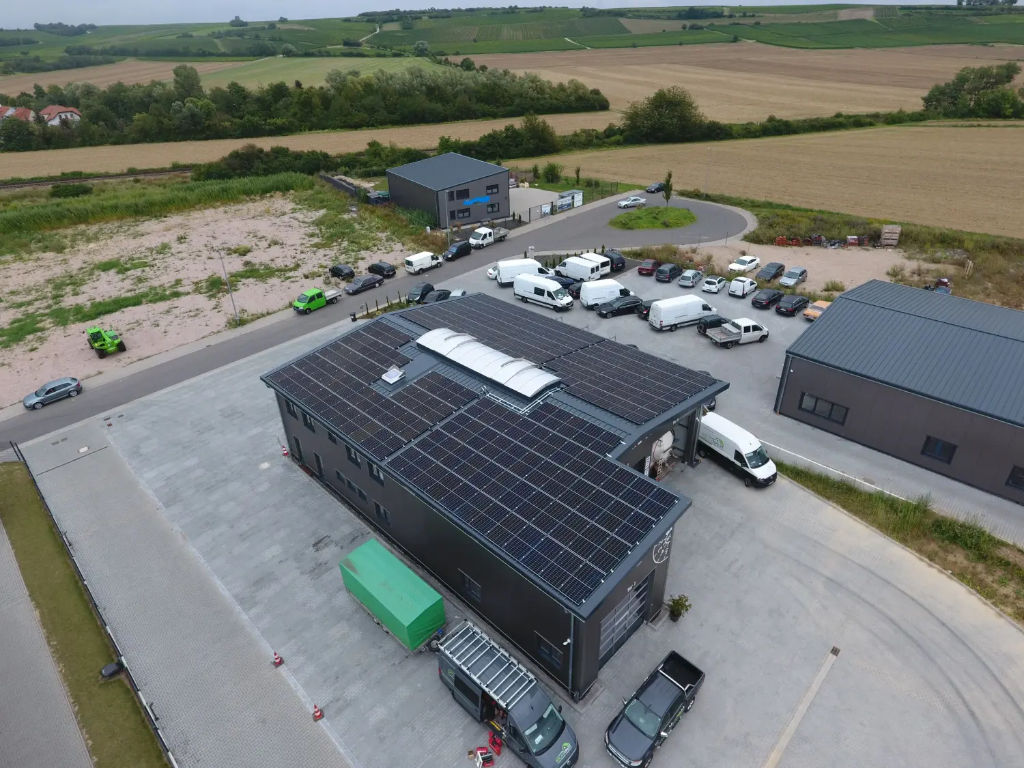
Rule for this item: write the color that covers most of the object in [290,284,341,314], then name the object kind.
green truck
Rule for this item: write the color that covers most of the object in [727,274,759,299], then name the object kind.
white vehicle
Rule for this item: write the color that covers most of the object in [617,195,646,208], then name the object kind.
gray vehicle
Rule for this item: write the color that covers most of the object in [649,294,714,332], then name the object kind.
white van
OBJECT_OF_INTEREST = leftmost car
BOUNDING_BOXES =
[15,375,84,410]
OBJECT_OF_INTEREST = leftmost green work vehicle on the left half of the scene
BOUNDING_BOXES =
[75,321,126,359]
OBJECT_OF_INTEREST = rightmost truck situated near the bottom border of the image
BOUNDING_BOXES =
[601,651,709,768]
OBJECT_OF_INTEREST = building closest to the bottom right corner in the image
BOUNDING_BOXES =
[775,279,1024,505]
